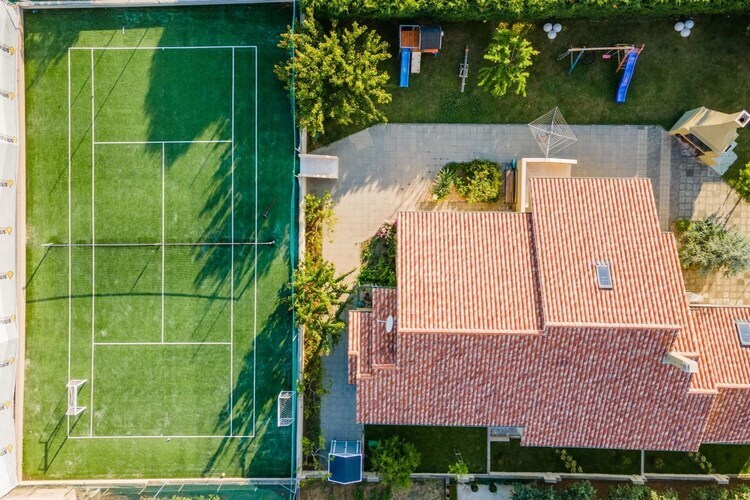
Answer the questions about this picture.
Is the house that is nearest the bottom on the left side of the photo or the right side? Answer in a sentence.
The house that is nearest the bottom sits on the right side.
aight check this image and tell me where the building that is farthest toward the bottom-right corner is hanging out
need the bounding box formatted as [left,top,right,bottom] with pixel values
[346,157,750,449]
